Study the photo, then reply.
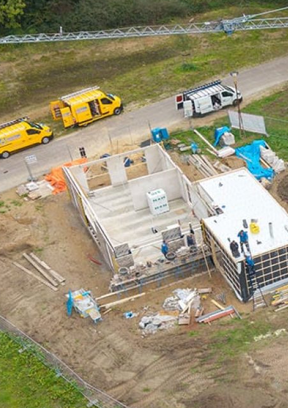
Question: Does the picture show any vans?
Yes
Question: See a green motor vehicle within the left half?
No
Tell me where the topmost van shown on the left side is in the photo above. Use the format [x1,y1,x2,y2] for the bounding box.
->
[52,94,119,129]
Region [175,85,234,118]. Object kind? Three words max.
van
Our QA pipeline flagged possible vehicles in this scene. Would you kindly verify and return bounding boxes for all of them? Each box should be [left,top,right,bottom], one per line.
[175,85,234,118]
[52,94,119,129]
[0,122,46,159]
